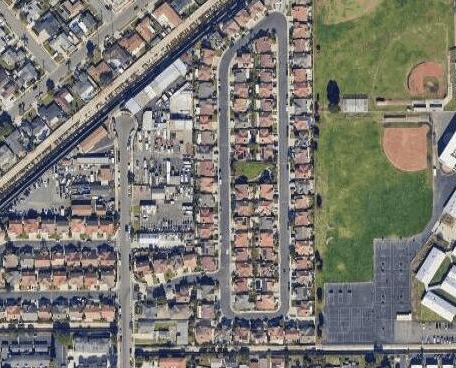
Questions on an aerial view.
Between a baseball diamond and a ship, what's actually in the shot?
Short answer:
baseball diamond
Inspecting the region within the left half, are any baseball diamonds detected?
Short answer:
No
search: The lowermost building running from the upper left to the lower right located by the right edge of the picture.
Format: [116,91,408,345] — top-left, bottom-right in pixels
[420,287,456,323]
